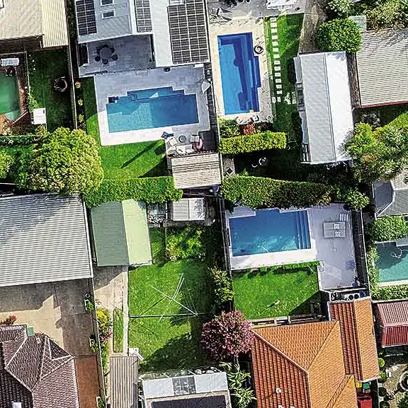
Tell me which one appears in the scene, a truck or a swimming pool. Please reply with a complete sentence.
I can see a swimming pool in this picture.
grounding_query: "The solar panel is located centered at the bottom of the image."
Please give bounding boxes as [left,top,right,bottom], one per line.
[154,395,224,408]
